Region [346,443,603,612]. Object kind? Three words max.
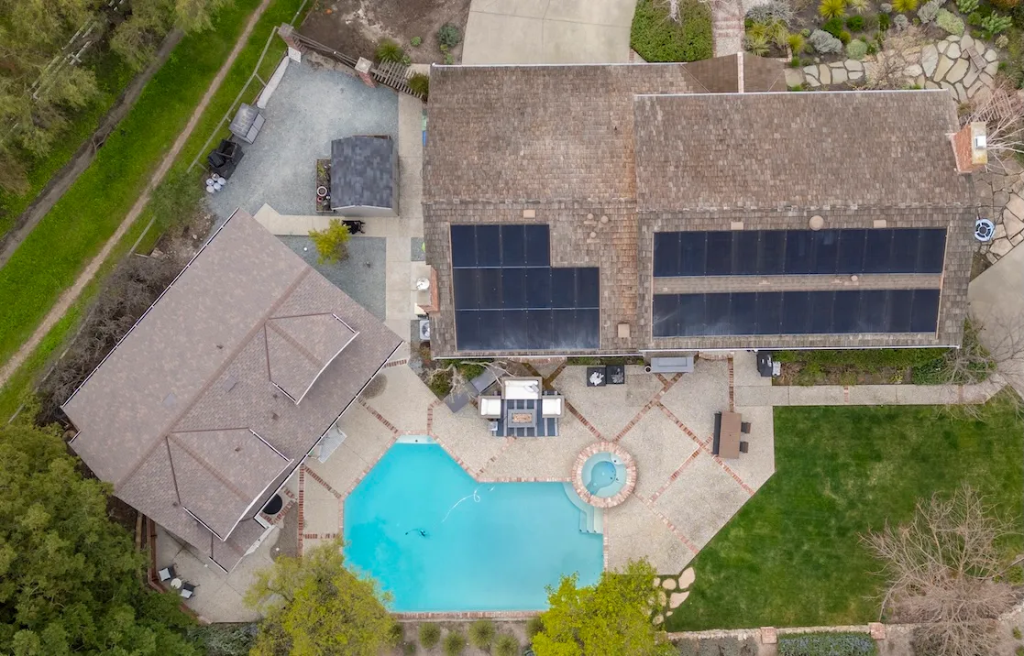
swimming pool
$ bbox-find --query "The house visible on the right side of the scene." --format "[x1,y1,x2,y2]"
[410,51,990,359]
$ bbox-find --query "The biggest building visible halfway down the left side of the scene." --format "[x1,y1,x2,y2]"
[59,208,404,573]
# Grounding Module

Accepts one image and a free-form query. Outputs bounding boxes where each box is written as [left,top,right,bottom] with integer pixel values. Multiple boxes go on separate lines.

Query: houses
[59,208,404,573]
[410,51,990,359]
